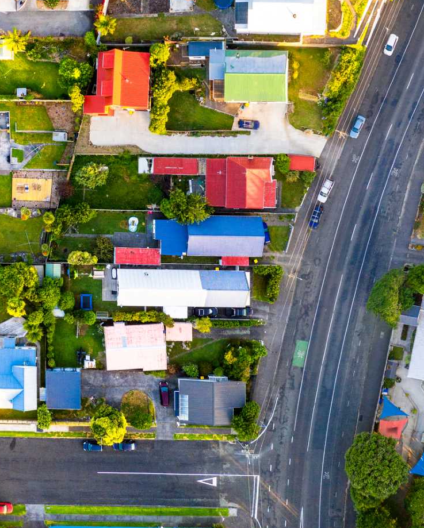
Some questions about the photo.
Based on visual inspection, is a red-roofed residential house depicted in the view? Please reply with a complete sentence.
Yes, there is a red-roofed residential house in the image.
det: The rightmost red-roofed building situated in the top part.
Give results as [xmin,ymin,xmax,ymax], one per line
[289,155,315,171]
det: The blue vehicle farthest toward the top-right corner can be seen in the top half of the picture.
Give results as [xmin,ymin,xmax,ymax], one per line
[350,115,366,138]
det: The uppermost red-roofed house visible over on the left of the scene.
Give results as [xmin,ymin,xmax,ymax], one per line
[83,47,151,116]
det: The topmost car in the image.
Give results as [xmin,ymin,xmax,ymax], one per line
[384,33,398,56]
